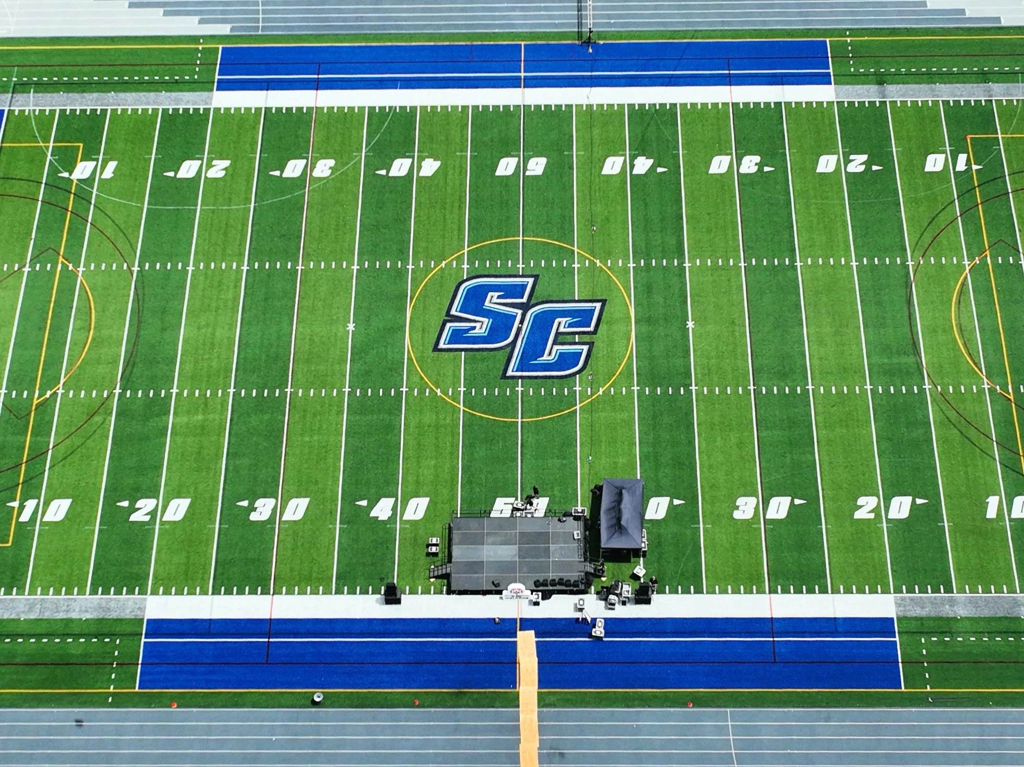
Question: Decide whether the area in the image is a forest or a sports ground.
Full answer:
This looks like a sports ground.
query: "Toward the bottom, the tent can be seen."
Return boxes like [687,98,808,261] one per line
[601,478,644,563]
